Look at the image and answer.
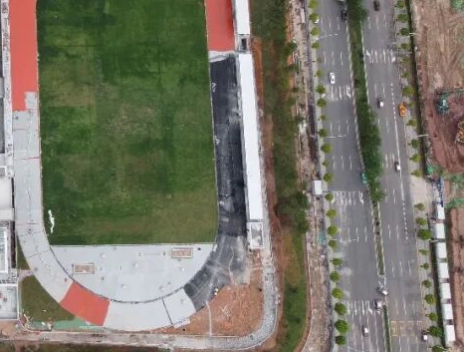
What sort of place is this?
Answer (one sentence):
The picture captures a sports ground.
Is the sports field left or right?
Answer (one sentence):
The sports field sits on the left side.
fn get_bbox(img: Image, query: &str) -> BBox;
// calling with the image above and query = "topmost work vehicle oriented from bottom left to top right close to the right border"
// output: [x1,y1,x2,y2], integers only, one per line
[437,87,454,111]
